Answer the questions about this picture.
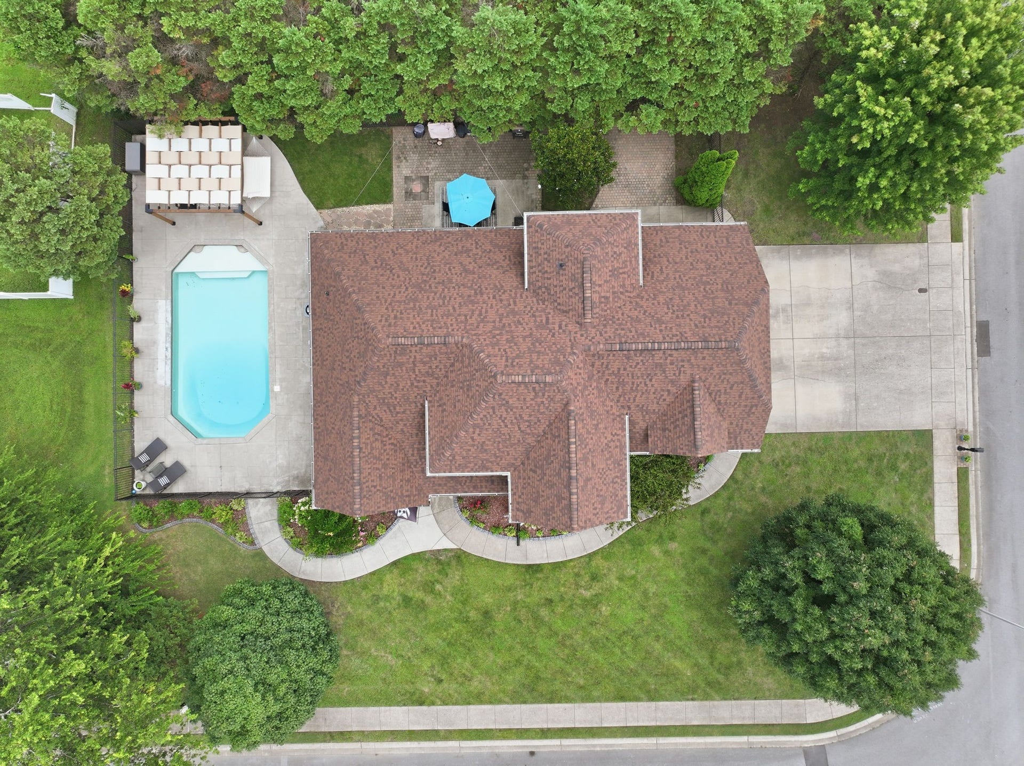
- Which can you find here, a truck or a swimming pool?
swimming pool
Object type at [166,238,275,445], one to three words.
swimming pool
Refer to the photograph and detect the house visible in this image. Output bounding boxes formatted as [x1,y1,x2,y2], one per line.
[307,208,774,537]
